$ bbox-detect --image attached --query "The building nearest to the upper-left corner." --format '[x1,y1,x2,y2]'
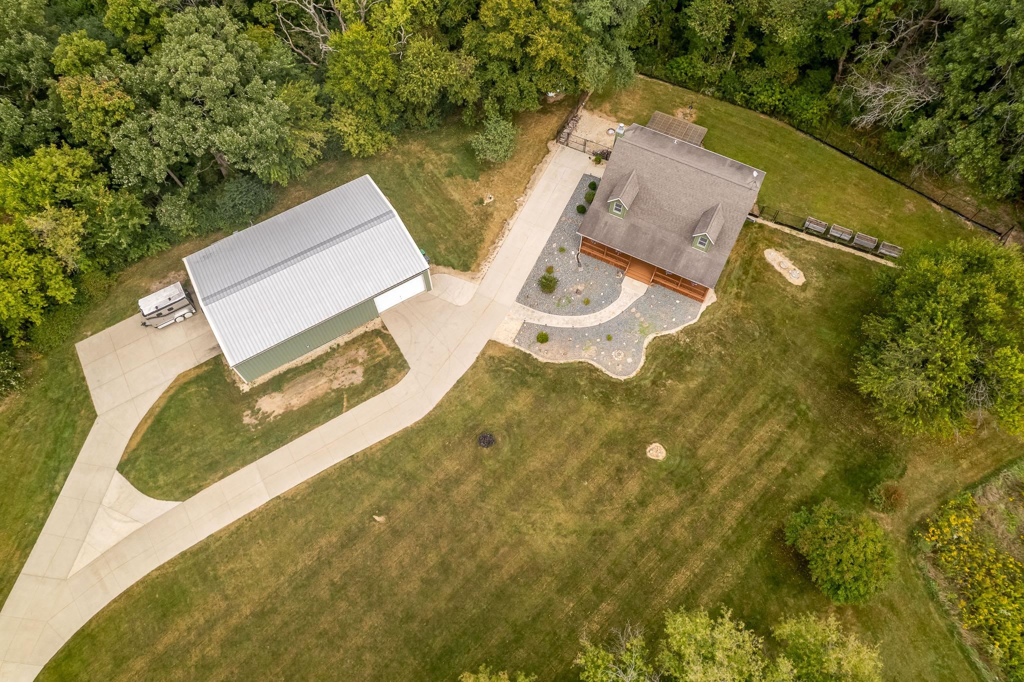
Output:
[181,174,433,384]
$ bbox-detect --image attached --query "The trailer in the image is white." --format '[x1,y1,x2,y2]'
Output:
[139,282,196,325]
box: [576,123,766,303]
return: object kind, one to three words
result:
house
